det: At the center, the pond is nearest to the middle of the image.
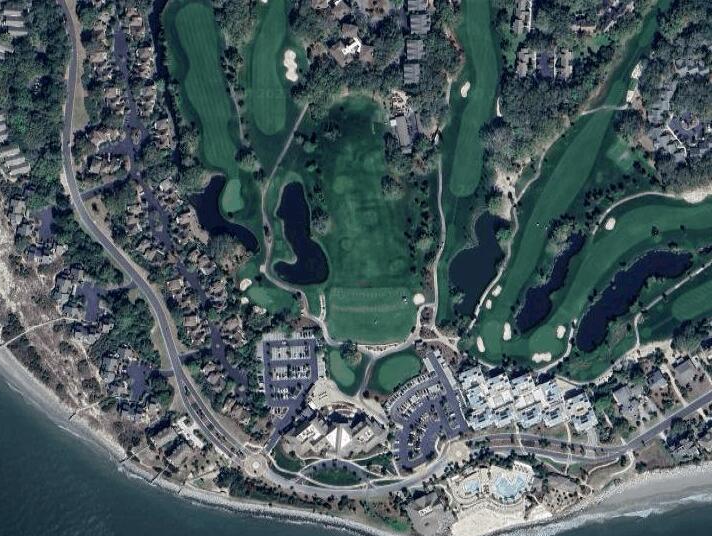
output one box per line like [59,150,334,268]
[273,182,328,284]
